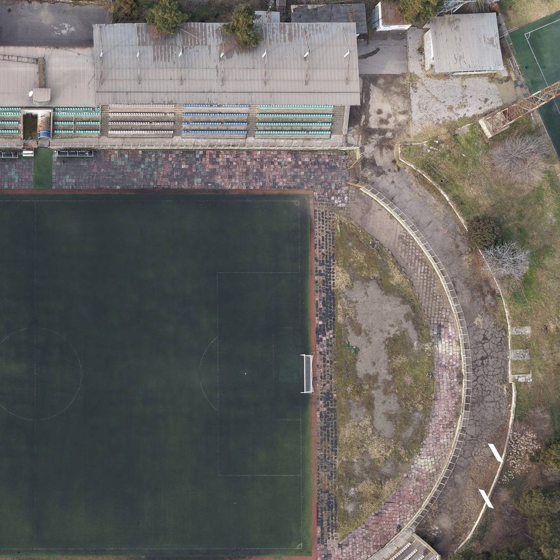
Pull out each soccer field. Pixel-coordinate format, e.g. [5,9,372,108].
[507,7,560,158]
[0,189,318,560]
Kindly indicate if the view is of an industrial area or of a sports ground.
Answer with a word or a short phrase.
sports ground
